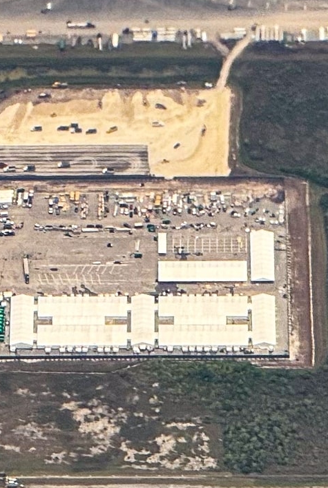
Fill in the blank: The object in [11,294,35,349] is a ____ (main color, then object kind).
white tent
